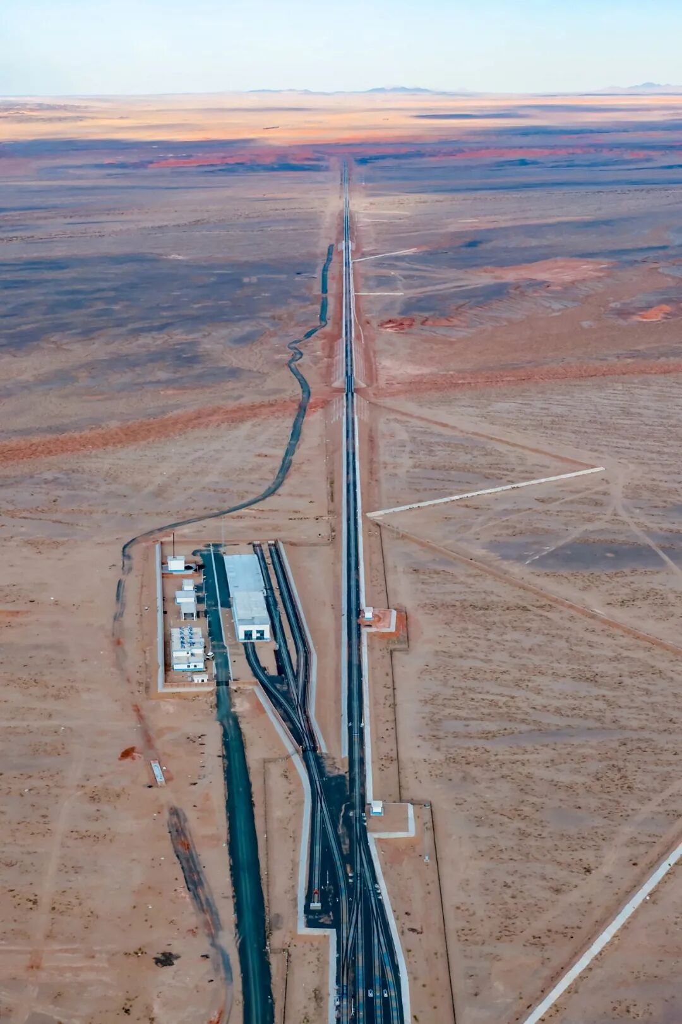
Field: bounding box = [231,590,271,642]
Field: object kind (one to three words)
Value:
shed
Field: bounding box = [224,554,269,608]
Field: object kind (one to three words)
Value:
building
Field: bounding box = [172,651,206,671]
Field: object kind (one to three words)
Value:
building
